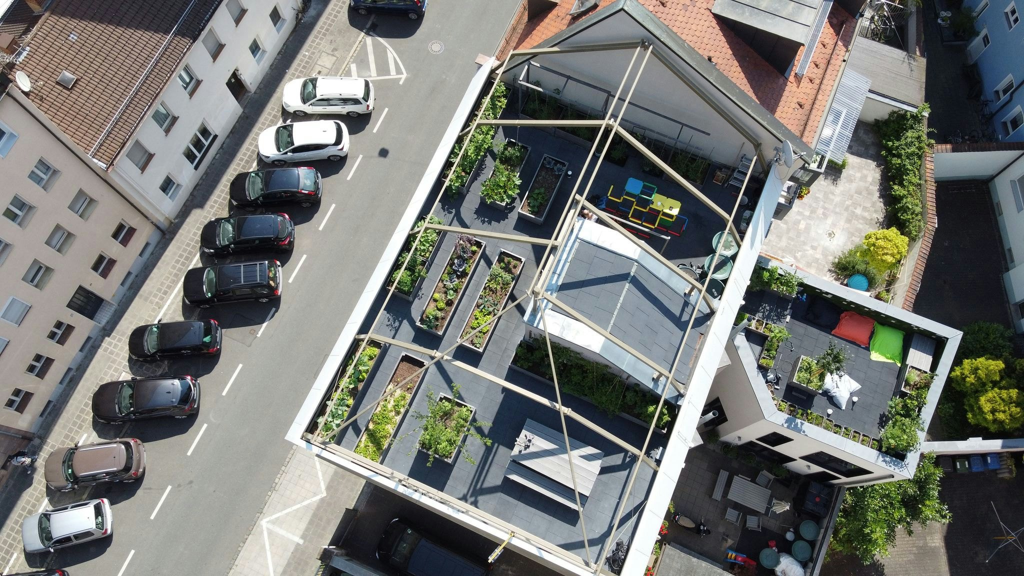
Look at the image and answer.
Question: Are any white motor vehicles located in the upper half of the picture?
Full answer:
Yes, a white motor vehicle shows up in the upper half of the picture.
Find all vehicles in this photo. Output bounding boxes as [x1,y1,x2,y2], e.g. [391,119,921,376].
[183,255,284,309]
[282,74,376,121]
[257,120,351,167]
[91,371,203,426]
[229,165,324,213]
[43,435,150,492]
[666,512,715,541]
[128,314,224,366]
[21,497,117,557]
[373,515,500,576]
[200,210,297,259]
[347,0,428,19]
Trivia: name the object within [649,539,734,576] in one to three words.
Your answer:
building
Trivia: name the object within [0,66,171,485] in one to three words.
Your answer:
house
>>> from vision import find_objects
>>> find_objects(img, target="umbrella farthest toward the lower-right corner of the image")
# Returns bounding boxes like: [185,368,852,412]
[764,494,792,517]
